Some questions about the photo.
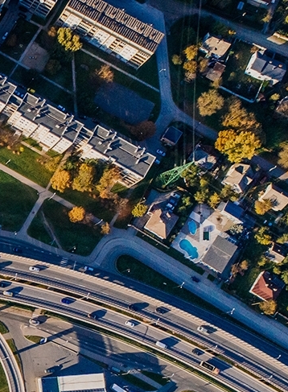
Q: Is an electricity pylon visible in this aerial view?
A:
Yes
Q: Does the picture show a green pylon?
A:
Yes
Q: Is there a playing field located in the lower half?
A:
No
